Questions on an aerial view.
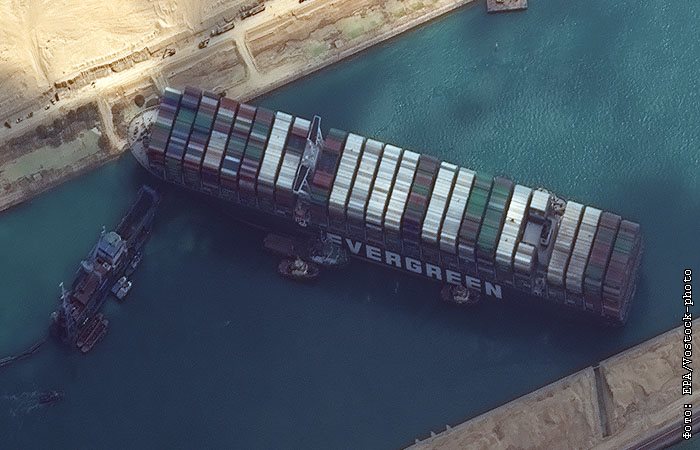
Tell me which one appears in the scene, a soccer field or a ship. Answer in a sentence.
The image shows a ship.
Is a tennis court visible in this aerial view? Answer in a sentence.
No, there appears to be no tennis court in this shot.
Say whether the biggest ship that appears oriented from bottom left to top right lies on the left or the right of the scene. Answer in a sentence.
The biggest ship that appears oriented from bottom left to top right sits on the left side.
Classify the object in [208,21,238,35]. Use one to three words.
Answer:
vehicle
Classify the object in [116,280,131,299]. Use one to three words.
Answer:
boat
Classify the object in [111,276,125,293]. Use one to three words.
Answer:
boat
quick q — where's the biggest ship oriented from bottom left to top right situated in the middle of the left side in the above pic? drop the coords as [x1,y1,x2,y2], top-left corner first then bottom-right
[44,179,164,343]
